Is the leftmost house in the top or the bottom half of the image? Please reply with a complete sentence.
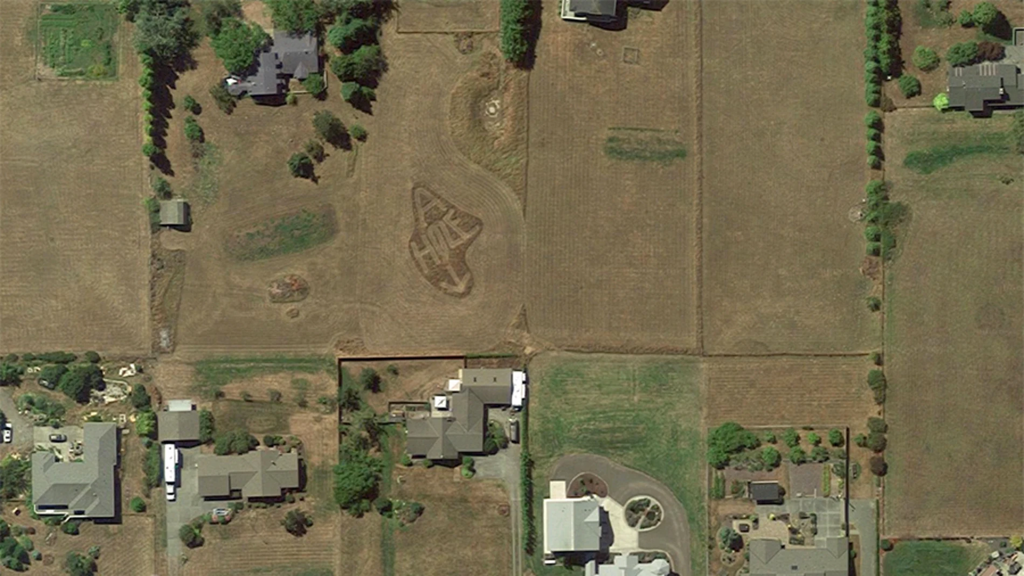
You can find the leftmost house in the bottom half.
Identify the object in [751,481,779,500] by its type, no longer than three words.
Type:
shed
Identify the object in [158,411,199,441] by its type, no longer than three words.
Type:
building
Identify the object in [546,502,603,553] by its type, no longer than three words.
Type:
barn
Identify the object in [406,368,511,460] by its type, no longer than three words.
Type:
house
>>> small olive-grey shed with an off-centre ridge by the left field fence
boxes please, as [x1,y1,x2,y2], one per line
[159,200,185,225]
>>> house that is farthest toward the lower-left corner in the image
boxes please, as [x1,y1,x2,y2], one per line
[31,422,116,522]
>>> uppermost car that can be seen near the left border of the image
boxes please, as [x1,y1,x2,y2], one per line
[38,377,54,391]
